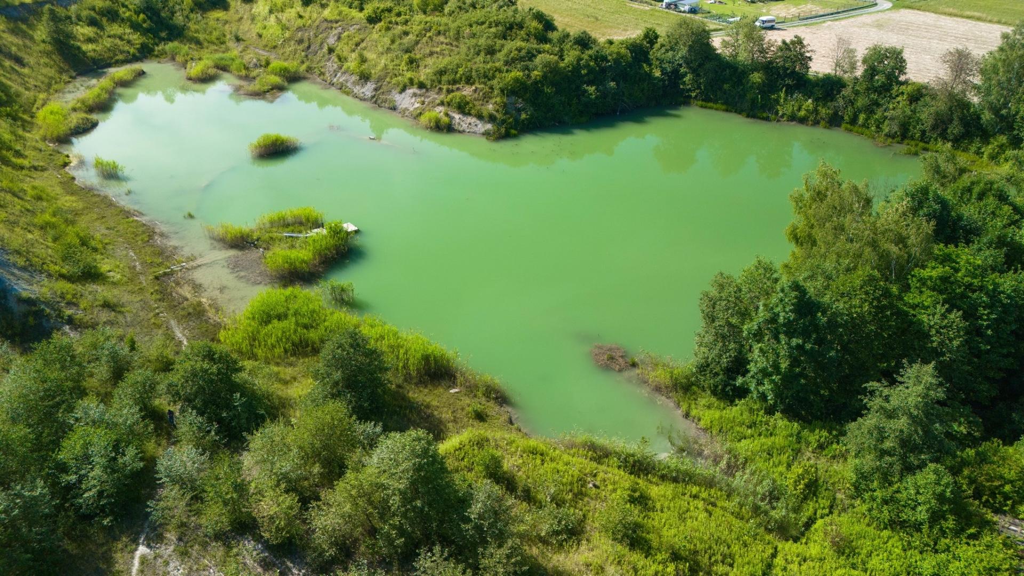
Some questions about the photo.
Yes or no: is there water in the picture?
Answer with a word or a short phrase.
Yes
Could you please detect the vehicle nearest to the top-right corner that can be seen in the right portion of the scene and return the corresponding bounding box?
[756,15,780,29]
